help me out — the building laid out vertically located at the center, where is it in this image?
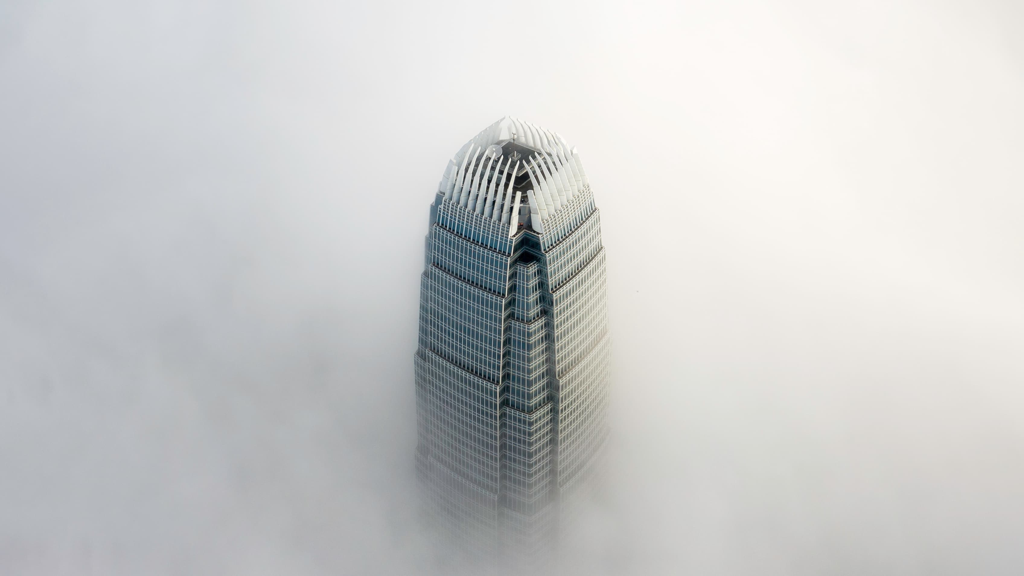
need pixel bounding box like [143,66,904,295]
[411,115,616,576]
